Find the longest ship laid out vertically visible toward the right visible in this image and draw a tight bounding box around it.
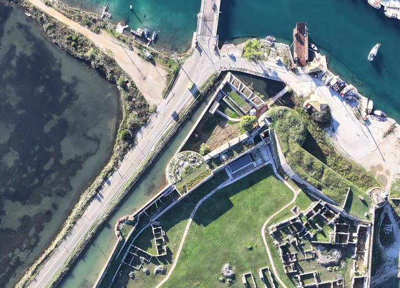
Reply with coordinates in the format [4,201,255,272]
[293,23,308,67]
